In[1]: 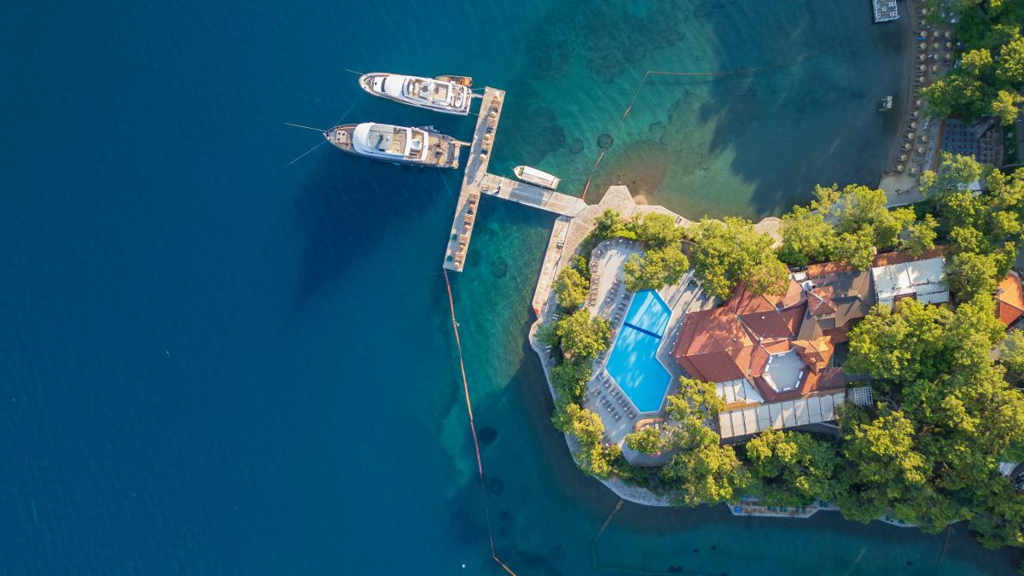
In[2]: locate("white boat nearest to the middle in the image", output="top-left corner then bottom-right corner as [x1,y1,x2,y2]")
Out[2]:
[513,165,560,189]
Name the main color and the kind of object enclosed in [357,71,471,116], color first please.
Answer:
white boat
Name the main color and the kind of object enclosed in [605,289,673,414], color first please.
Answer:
blue swimming pool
